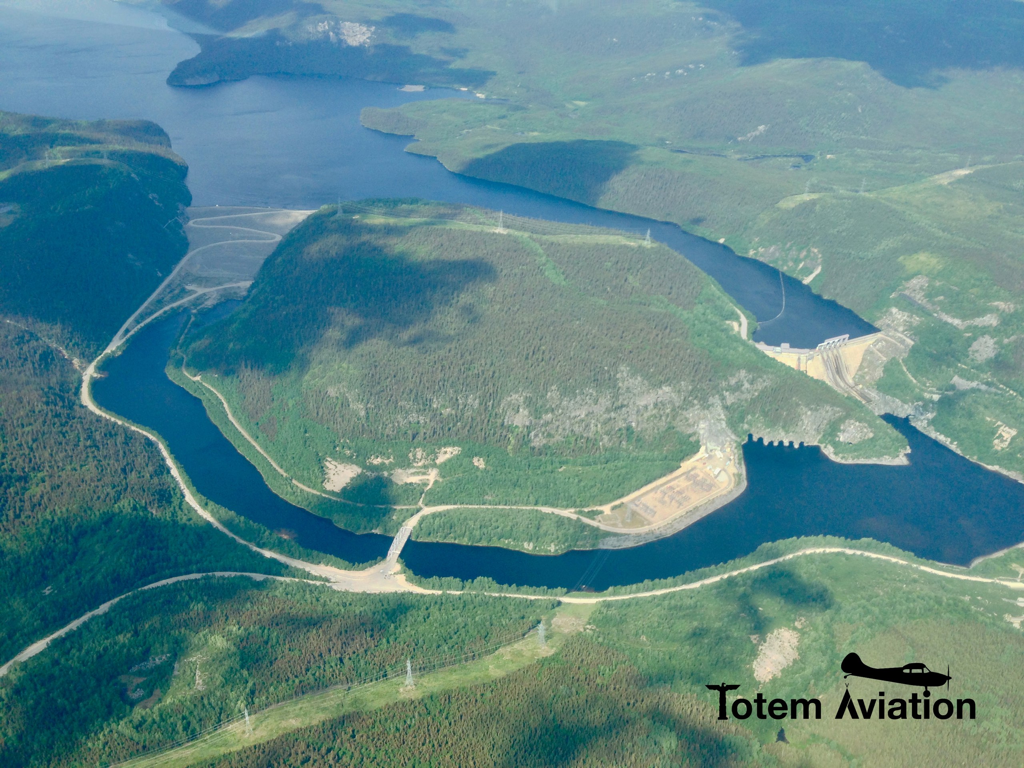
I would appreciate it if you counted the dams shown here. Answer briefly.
two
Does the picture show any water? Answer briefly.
Yes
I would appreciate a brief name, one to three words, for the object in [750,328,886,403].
dam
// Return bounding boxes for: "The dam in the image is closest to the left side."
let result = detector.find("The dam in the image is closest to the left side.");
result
[172,204,313,306]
